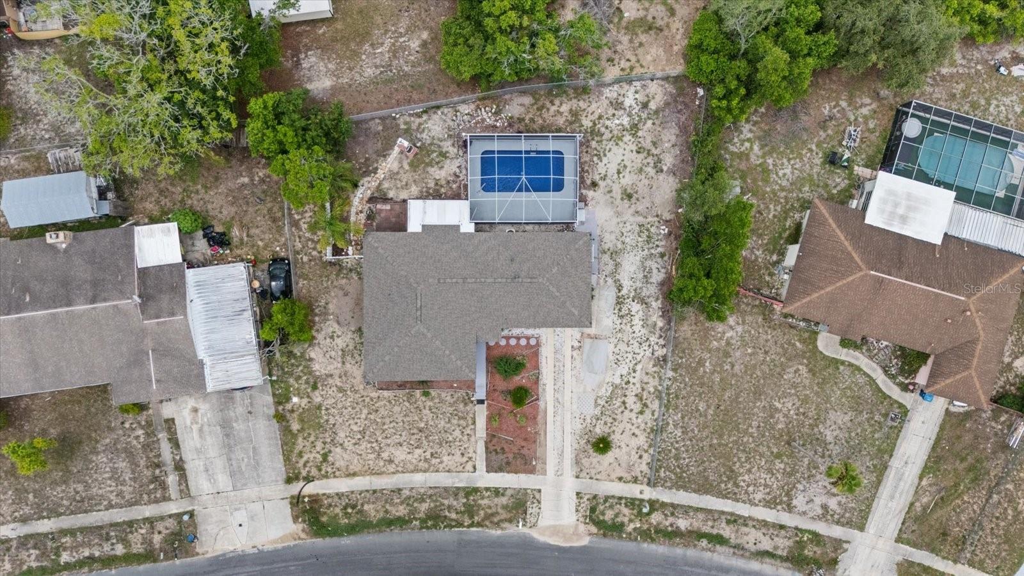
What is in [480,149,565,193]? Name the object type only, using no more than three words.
swimming pool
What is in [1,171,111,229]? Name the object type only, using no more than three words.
shed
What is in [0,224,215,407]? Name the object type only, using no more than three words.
house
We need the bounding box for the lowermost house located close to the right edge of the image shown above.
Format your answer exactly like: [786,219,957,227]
[776,197,1024,409]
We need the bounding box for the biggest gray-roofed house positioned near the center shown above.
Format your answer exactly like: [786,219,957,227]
[363,225,592,382]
